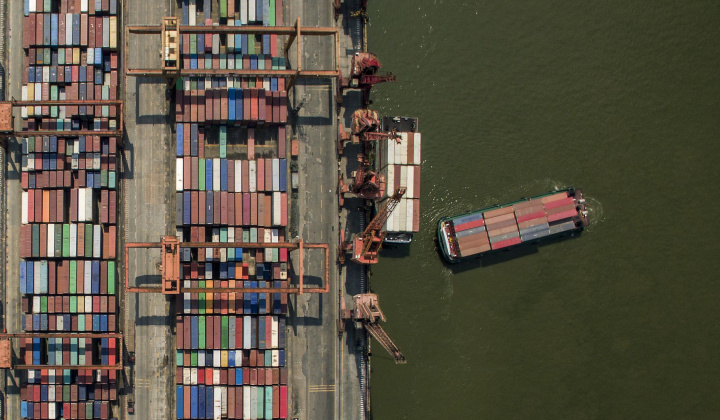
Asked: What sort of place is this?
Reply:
port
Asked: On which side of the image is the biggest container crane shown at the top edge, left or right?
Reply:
left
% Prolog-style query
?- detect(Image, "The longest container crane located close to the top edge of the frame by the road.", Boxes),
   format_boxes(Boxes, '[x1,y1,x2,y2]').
[126,13,339,89]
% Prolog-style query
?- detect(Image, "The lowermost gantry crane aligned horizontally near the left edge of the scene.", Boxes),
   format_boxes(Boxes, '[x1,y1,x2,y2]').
[0,327,126,369]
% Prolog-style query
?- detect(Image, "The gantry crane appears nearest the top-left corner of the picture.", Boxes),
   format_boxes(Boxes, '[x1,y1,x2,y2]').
[0,99,126,145]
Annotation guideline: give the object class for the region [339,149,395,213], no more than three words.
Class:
container crane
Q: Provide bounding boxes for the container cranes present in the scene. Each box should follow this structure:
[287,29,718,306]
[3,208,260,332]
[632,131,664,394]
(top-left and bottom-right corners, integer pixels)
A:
[339,184,410,276]
[339,101,407,157]
[126,13,339,89]
[339,293,409,365]
[127,233,328,295]
[339,44,401,103]
[0,327,126,369]
[0,99,126,145]
[339,149,395,213]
